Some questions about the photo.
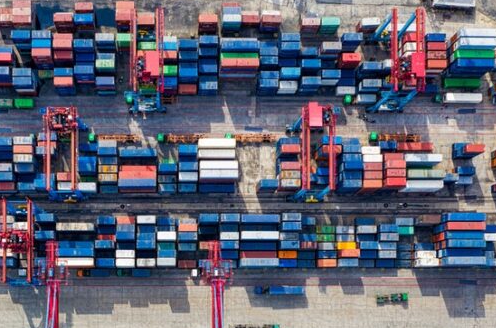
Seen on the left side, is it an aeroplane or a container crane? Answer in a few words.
container crane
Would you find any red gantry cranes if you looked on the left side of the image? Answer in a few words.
Yes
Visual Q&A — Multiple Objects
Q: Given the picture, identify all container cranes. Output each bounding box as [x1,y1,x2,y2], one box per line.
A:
[201,242,235,328]
[36,242,71,328]
[365,5,428,115]
[40,104,87,206]
[125,7,168,115]
[0,194,51,291]
[284,98,338,206]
